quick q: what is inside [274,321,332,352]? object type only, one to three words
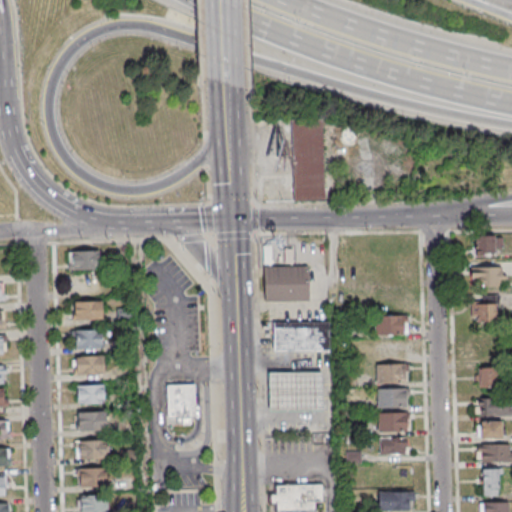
building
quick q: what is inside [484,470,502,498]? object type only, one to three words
house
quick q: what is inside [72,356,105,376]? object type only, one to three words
house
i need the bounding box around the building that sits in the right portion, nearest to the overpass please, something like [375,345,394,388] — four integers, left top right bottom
[293,118,325,201]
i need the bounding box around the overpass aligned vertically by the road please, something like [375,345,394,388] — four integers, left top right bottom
[198,0,252,123]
